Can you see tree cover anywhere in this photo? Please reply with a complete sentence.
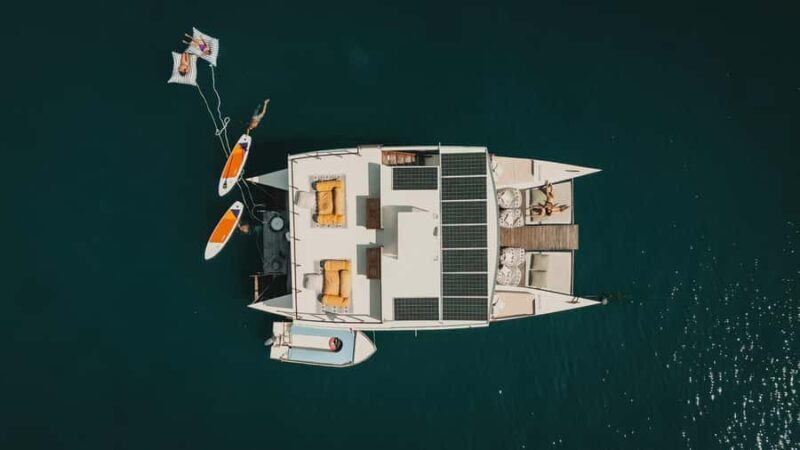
No, there's no tree cover in this view.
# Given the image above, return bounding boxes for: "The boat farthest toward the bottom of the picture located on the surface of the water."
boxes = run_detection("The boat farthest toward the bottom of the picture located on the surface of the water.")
[266,320,377,367]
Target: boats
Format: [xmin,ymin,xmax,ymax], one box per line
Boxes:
[266,320,377,367]
[247,143,609,330]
